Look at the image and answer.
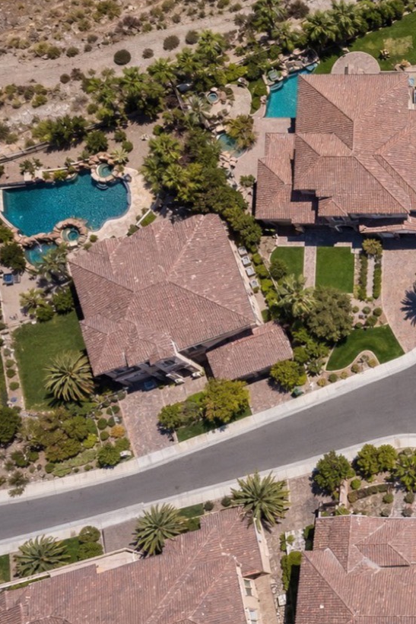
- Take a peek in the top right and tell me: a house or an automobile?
house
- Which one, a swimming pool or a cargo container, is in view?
swimming pool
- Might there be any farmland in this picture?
No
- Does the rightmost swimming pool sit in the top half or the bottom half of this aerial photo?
top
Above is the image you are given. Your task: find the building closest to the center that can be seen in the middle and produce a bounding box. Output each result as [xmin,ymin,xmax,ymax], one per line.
[67,213,295,384]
